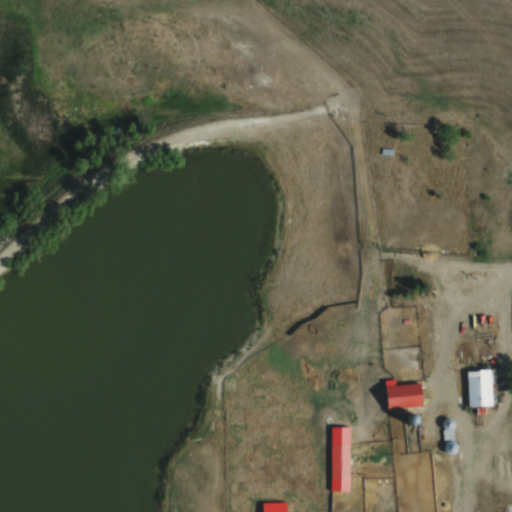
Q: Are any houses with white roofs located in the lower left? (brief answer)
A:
No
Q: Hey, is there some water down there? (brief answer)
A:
Yes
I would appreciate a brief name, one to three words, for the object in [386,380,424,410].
barn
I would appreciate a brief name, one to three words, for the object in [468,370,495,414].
house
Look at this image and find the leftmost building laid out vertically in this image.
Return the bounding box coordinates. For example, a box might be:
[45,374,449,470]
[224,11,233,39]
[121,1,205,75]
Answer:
[331,428,351,492]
